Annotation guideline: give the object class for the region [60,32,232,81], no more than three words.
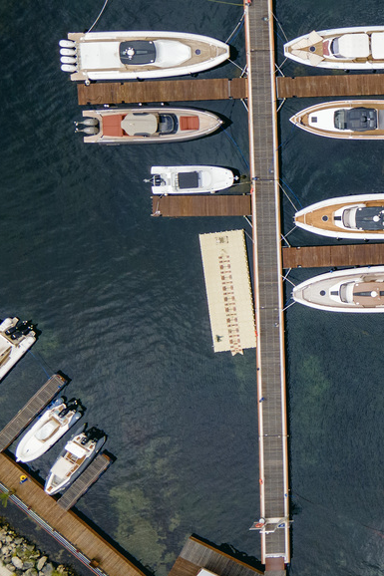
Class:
boat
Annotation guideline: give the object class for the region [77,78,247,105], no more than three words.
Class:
pier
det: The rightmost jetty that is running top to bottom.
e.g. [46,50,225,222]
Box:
[244,0,292,571]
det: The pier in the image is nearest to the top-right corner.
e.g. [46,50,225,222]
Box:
[277,74,384,98]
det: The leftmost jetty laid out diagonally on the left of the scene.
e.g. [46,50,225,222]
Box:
[0,374,70,450]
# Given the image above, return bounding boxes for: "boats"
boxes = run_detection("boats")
[0,317,37,386]
[283,27,384,70]
[288,100,384,139]
[145,166,240,194]
[16,401,82,464]
[292,264,384,312]
[75,107,224,143]
[60,32,232,81]
[294,193,384,240]
[44,426,105,495]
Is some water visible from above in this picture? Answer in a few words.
Yes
